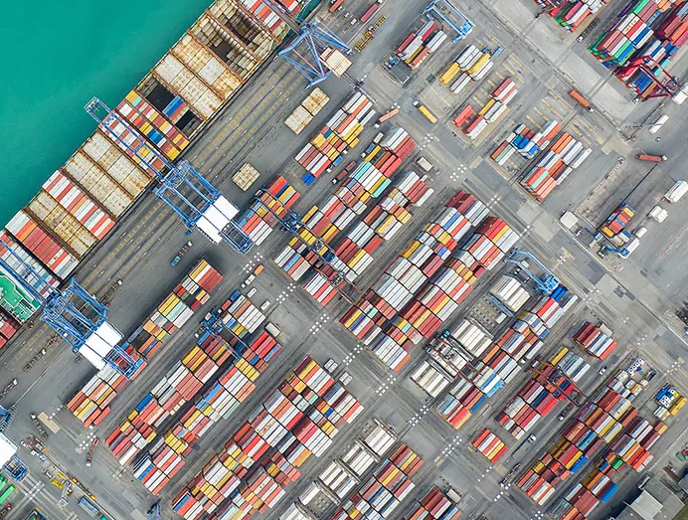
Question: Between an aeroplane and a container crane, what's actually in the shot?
container crane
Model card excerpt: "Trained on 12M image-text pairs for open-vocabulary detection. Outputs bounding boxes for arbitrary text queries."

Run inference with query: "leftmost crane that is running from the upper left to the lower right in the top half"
[83,95,255,256]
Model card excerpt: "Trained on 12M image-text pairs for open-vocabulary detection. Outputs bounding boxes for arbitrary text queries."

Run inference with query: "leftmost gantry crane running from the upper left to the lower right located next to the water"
[0,235,141,380]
